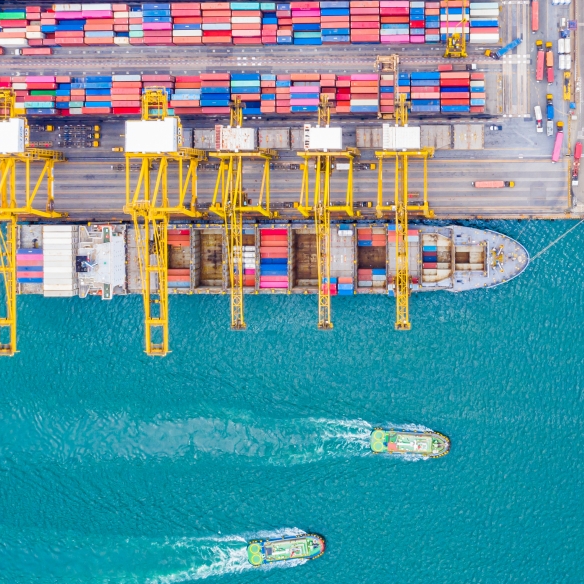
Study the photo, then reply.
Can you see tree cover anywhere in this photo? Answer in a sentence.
No, no tree cover is visible.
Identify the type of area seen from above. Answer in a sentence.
It's a port.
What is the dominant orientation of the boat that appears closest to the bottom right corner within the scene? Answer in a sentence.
The boat that appears closest to the bottom right corner has been laid out from side to side relative to the frame.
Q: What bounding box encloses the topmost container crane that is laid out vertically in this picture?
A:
[439,0,466,57]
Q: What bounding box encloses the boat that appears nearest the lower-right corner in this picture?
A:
[369,429,451,458]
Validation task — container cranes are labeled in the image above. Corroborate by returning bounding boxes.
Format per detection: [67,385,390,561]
[119,88,210,356]
[292,93,363,330]
[203,93,283,331]
[367,92,434,331]
[374,58,402,119]
[0,89,71,356]
[439,0,466,57]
